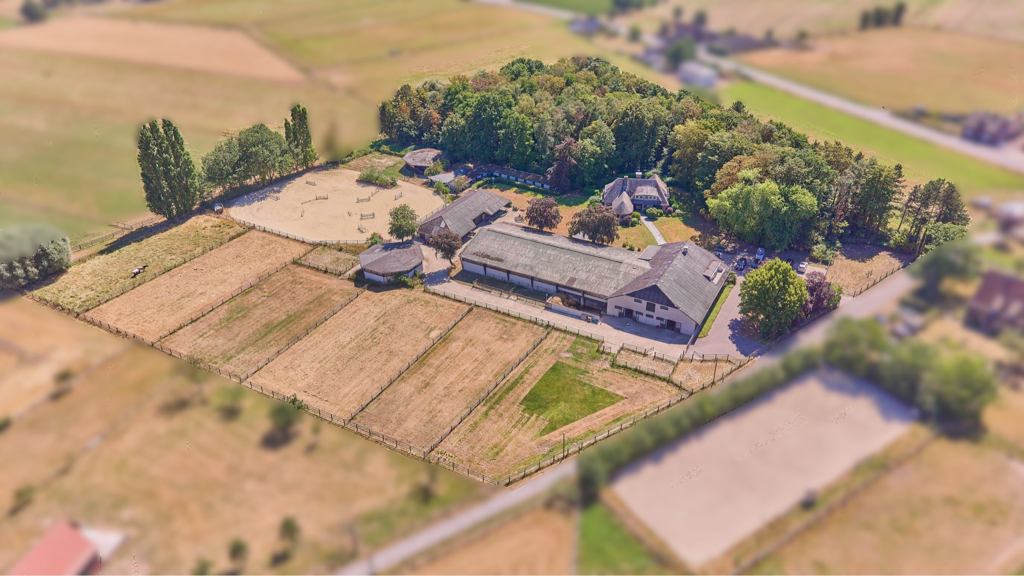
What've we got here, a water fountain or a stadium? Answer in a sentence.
The image shows a stadium.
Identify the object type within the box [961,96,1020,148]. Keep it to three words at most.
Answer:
house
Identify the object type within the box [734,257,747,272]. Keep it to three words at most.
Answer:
vehicle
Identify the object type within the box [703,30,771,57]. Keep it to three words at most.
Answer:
shed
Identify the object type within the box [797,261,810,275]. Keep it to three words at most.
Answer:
vehicle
